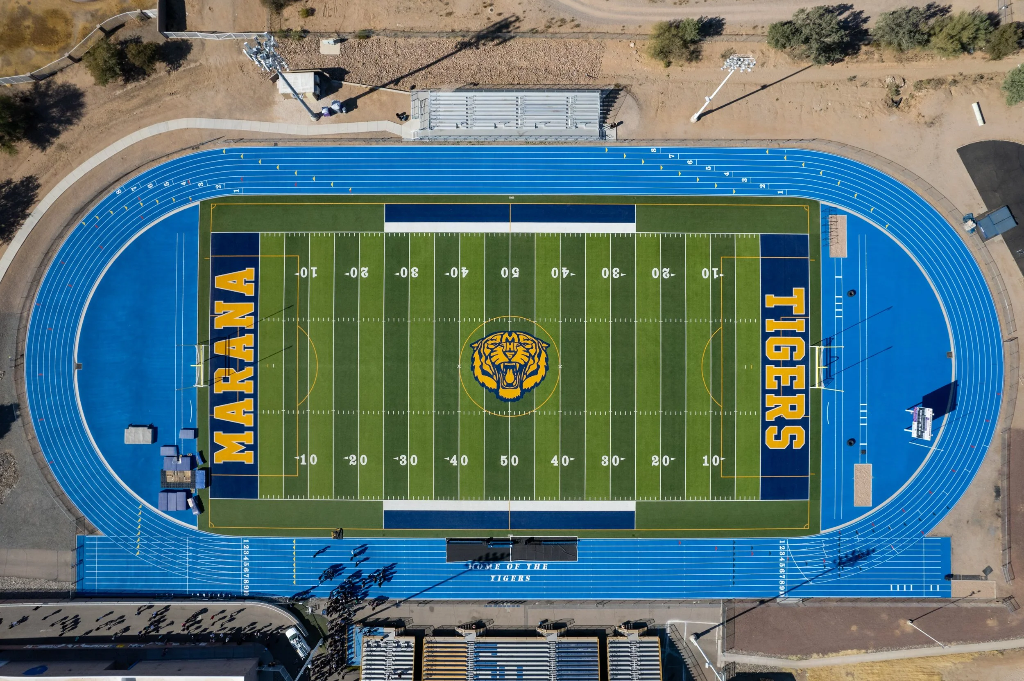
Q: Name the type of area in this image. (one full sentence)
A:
The area seen from above is a sports ground.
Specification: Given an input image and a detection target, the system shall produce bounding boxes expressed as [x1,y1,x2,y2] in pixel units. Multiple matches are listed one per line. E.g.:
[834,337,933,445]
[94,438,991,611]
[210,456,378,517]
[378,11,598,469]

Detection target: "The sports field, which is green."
[199,195,821,539]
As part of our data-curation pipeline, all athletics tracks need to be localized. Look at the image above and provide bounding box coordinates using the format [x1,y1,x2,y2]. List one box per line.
[24,146,1005,601]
